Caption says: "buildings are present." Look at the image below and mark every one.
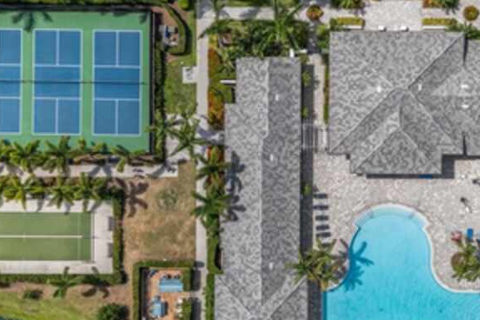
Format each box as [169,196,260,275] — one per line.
[215,54,308,320]
[330,21,480,175]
